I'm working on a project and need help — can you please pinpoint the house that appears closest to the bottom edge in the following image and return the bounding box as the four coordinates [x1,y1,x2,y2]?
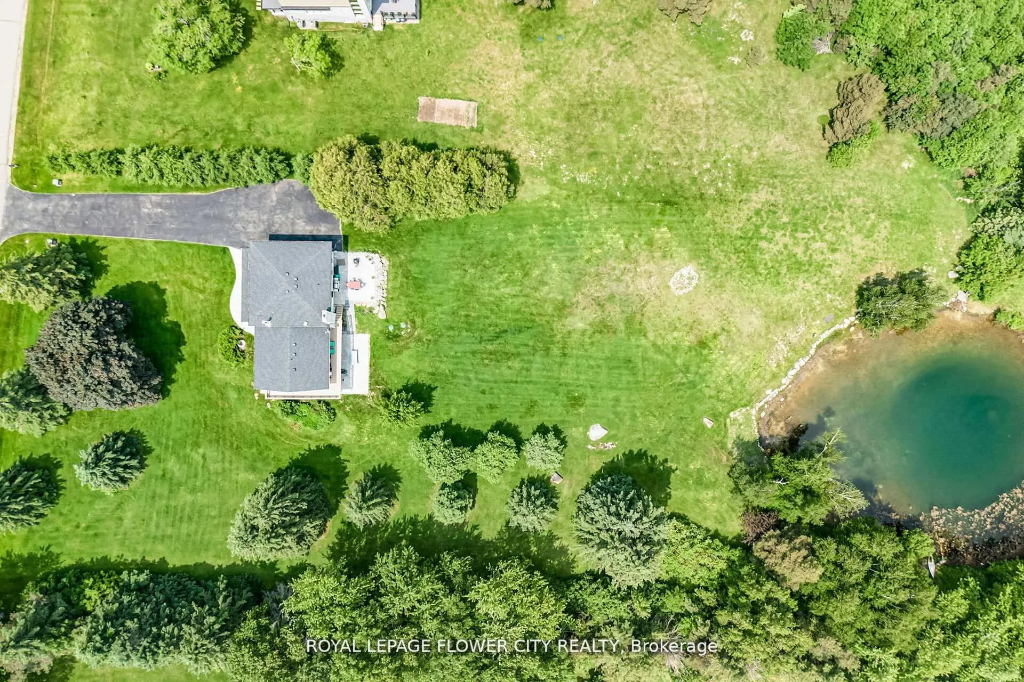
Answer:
[242,240,336,393]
